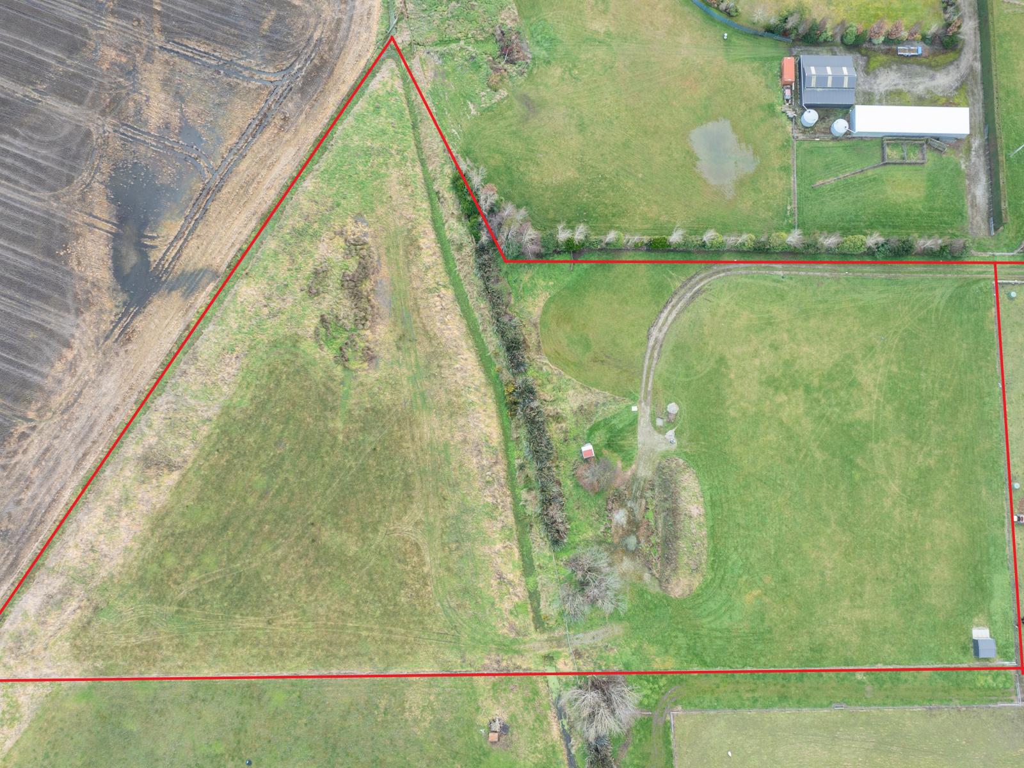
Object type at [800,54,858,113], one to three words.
shed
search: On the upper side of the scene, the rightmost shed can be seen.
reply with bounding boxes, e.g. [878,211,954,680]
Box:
[845,104,971,137]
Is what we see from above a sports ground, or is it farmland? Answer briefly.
farmland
